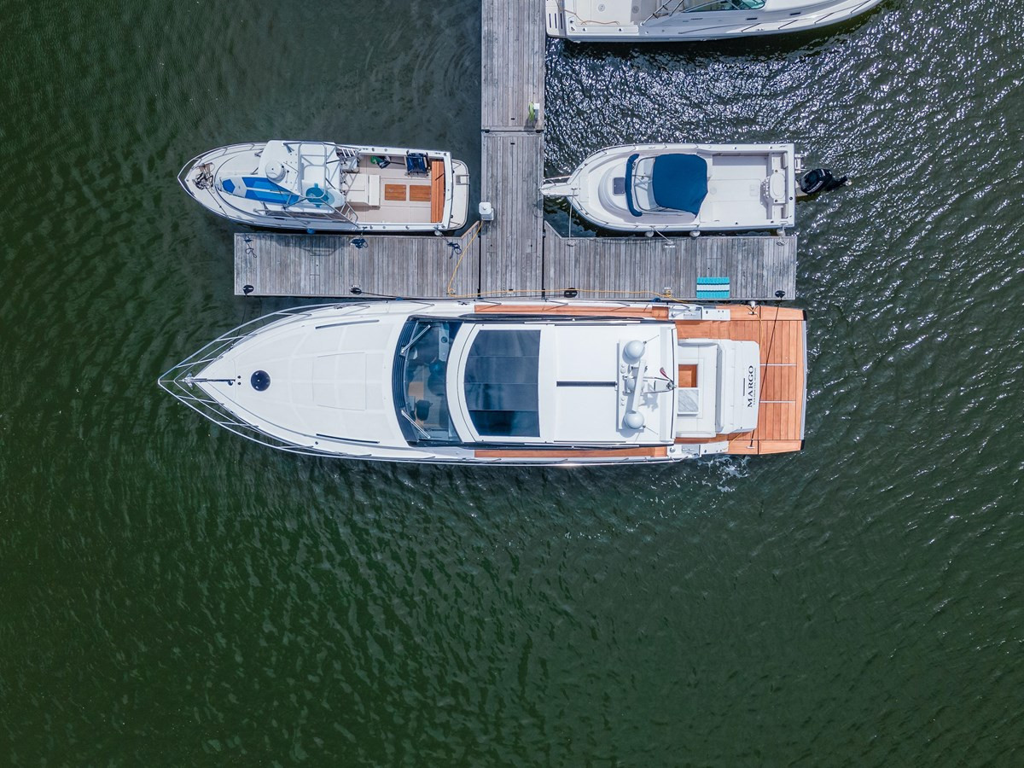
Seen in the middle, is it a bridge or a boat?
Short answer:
boat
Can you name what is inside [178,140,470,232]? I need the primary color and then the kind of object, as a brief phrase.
white boat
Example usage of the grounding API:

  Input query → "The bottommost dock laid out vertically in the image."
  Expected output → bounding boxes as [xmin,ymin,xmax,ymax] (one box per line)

[482,132,543,299]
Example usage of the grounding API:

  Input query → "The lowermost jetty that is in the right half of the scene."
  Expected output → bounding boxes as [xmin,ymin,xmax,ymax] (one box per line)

[543,222,797,300]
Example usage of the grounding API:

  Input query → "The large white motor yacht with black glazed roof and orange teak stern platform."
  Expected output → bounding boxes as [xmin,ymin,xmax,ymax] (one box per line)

[159,299,806,462]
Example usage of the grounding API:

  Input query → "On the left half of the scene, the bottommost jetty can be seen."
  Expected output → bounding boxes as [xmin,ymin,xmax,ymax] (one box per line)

[235,221,482,298]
